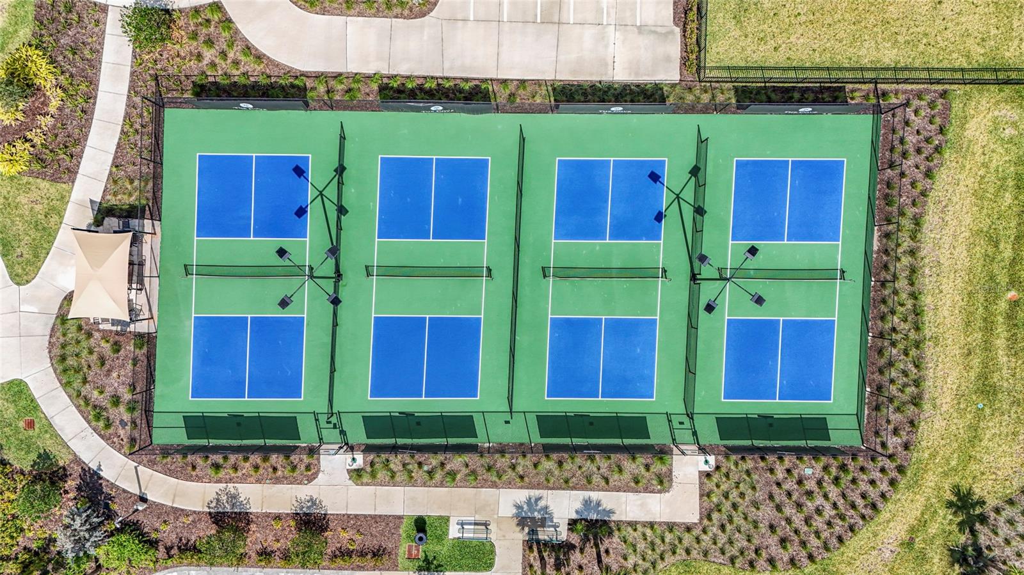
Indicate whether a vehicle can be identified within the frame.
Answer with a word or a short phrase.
No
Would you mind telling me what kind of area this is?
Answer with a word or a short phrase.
sports ground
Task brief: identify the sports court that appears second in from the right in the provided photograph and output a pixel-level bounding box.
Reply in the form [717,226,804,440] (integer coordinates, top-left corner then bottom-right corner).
[510,113,703,445]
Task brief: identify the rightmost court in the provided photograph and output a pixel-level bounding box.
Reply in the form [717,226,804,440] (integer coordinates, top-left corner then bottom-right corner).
[687,114,882,446]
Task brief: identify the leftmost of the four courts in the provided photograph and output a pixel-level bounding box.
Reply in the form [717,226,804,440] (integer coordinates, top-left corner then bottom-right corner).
[153,108,344,444]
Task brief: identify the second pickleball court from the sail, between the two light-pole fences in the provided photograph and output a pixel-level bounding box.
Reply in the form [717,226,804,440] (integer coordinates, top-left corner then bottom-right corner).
[331,111,525,444]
